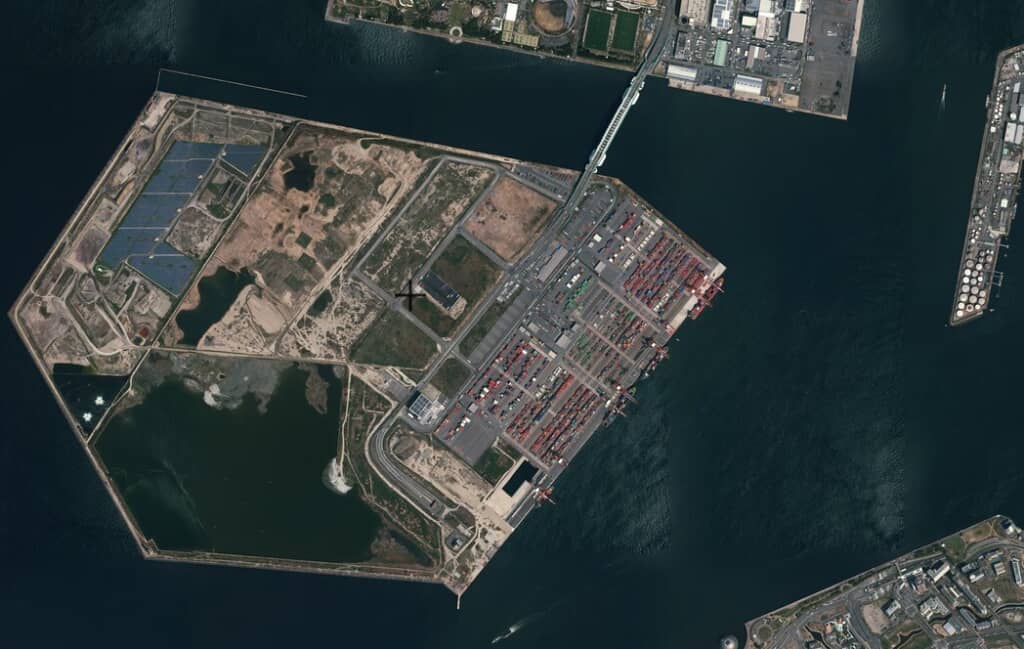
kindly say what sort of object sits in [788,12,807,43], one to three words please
building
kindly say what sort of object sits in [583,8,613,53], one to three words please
soccer field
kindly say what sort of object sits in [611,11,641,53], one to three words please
soccer field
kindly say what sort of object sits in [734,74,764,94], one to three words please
building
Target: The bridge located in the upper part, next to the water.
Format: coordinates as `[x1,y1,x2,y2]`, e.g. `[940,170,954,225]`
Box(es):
[522,0,676,256]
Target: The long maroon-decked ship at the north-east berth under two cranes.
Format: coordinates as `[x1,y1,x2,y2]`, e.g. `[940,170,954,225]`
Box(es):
[690,277,724,319]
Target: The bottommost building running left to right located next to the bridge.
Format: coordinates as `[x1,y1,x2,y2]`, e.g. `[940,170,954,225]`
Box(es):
[667,64,697,80]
